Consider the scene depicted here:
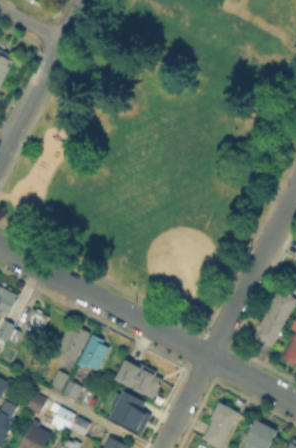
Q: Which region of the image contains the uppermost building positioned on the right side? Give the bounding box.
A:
[258,294,296,344]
